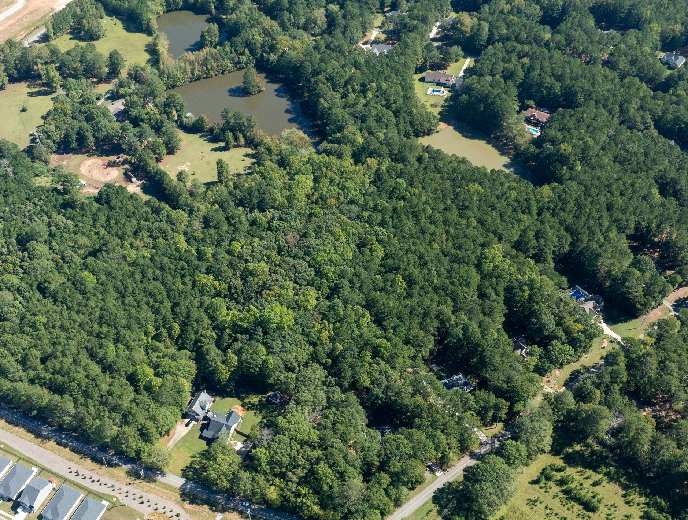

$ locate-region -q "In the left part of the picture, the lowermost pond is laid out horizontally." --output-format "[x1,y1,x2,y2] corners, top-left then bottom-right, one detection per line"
[167,69,321,146]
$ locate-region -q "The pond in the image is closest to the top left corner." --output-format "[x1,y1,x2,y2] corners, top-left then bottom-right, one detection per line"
[156,10,229,59]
